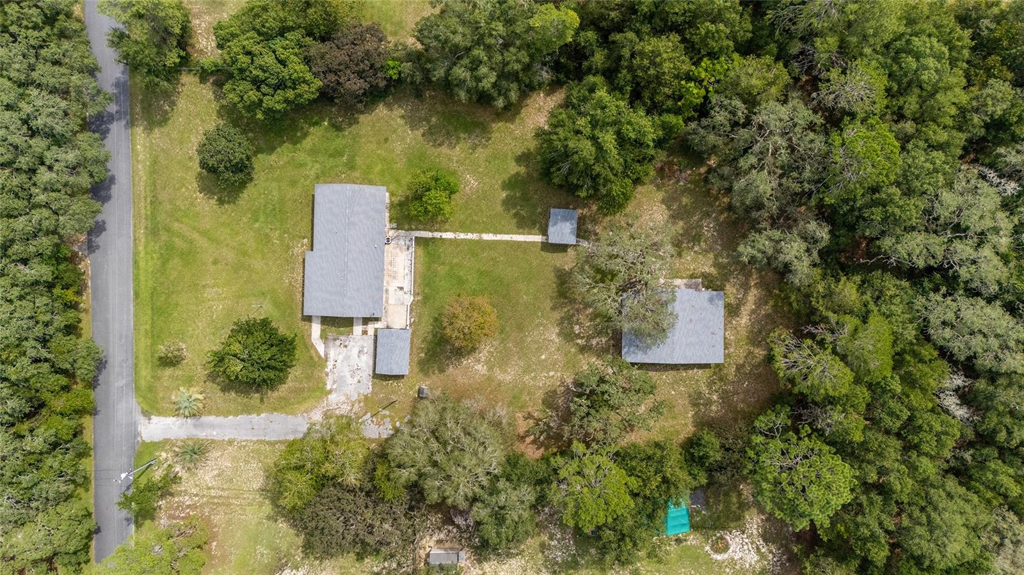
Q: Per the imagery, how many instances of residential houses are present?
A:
two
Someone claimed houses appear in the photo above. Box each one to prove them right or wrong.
[302,184,386,318]
[622,291,724,364]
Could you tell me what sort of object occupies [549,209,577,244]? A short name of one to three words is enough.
shed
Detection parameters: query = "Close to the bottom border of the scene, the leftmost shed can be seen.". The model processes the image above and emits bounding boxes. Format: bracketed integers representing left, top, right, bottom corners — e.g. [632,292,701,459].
[430,545,461,567]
